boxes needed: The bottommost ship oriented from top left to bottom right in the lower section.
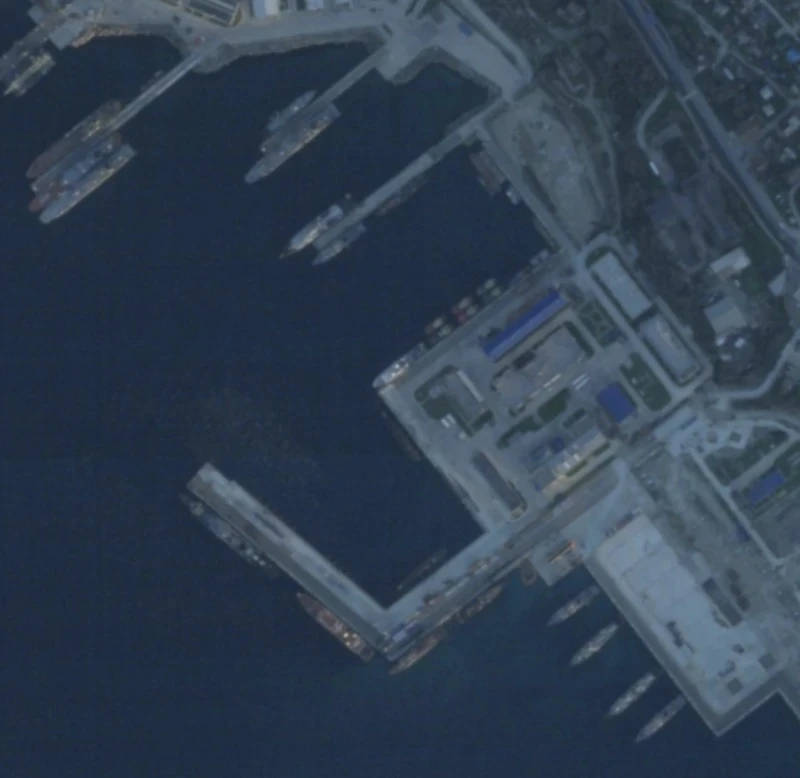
[297,594,378,666]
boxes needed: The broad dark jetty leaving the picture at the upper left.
[0,20,58,74]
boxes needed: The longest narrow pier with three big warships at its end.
[34,52,202,190]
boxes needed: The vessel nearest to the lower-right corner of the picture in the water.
[637,694,688,743]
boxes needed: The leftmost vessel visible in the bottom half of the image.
[177,491,284,583]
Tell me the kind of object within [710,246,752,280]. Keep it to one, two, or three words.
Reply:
building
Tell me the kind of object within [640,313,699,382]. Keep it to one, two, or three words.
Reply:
building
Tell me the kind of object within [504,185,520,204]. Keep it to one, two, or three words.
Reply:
boat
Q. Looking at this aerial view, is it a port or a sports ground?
port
